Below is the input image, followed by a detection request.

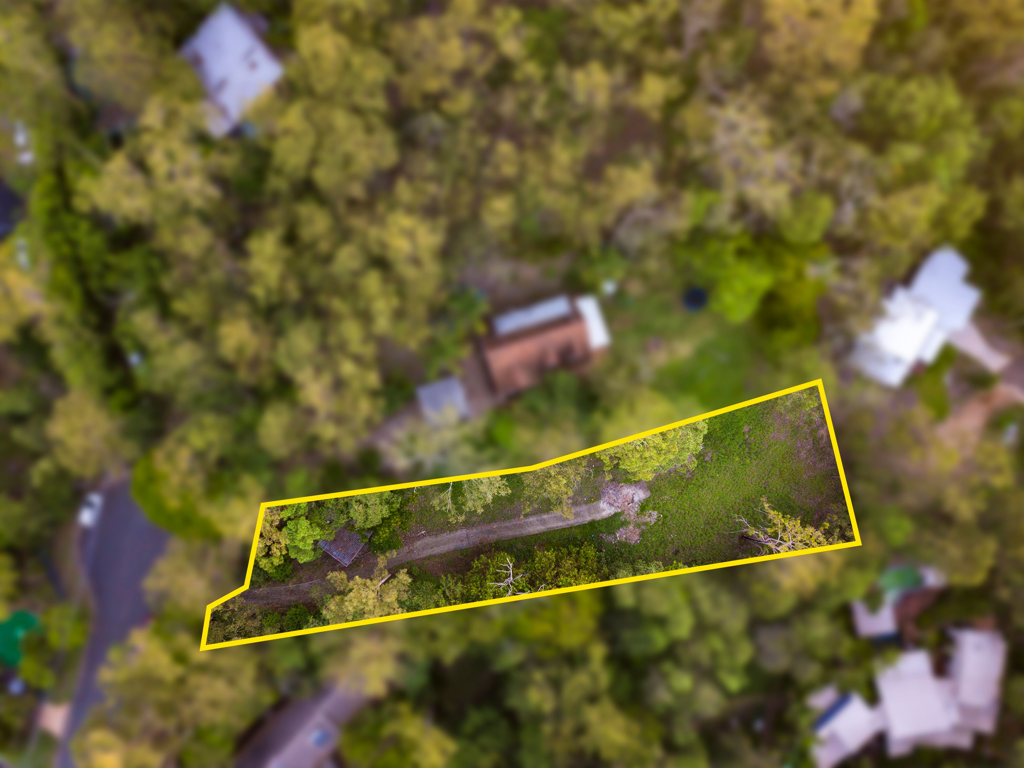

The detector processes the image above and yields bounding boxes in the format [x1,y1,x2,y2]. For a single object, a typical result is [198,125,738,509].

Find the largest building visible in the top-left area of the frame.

[182,2,287,142]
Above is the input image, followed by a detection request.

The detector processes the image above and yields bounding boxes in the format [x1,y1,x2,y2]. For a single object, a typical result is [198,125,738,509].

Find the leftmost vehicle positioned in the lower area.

[74,494,99,529]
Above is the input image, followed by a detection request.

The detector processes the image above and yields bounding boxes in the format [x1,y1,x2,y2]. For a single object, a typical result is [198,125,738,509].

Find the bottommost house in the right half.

[809,630,1007,768]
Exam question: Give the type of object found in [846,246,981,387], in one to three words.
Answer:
house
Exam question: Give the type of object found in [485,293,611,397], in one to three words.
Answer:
house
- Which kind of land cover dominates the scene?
trees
